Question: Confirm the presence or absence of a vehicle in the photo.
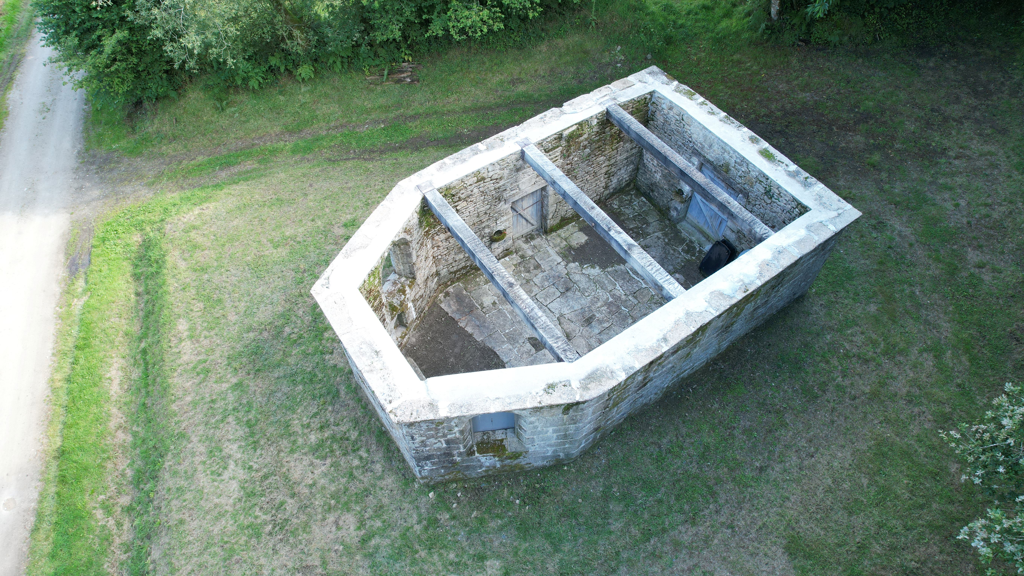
No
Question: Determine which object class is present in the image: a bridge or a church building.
church building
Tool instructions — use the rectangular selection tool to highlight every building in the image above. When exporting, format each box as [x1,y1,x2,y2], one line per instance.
[310,68,860,486]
